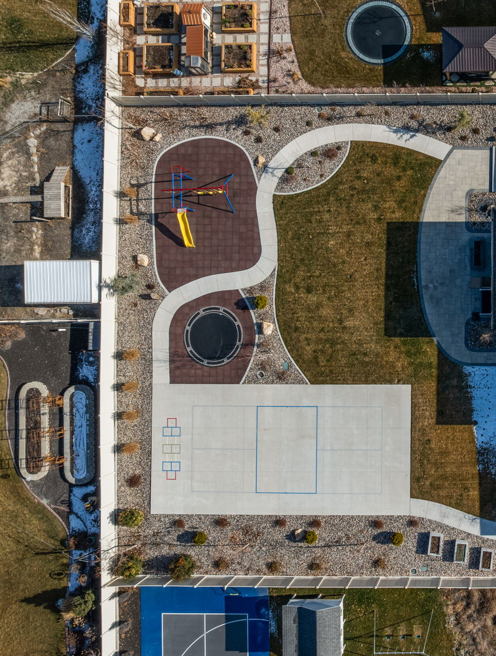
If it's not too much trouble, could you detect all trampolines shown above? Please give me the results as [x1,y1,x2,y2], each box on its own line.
[346,0,410,65]
[182,307,243,367]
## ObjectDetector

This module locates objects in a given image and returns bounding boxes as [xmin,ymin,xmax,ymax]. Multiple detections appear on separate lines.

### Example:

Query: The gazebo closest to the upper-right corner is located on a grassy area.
[442,26,496,85]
